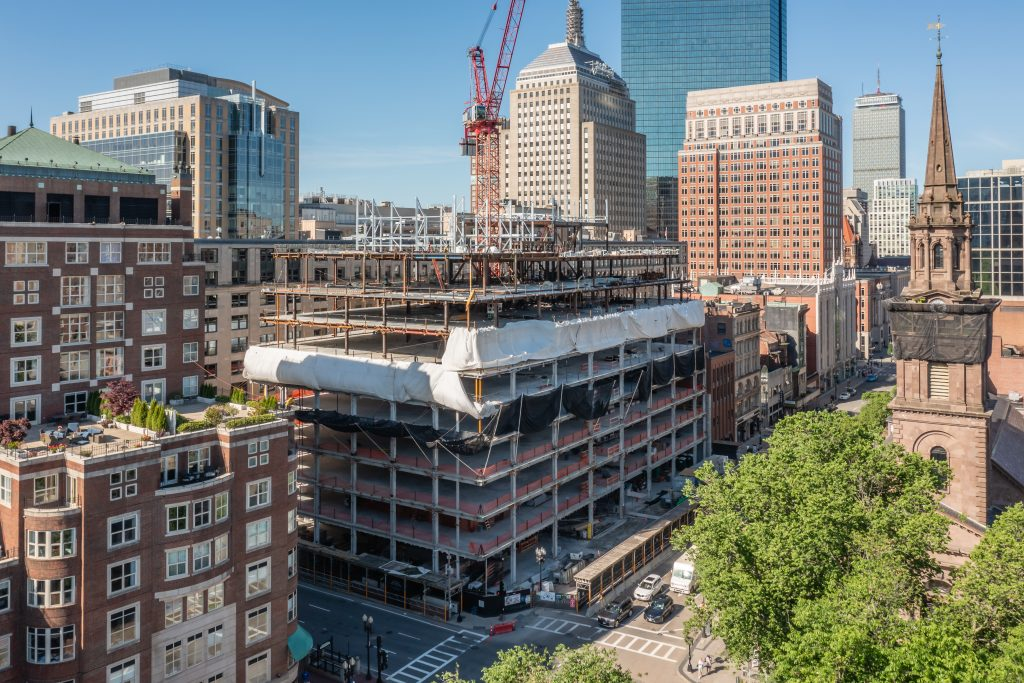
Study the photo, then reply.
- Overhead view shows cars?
Yes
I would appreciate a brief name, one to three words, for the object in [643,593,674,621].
car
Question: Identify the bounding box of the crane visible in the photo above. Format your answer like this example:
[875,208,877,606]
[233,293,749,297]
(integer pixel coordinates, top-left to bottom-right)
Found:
[452,0,524,381]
